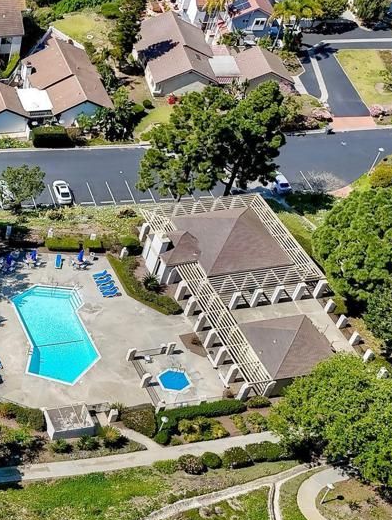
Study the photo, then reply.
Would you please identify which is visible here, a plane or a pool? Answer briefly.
pool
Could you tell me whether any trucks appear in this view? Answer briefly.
No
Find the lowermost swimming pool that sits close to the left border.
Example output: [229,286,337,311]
[10,280,101,385]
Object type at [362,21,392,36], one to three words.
car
